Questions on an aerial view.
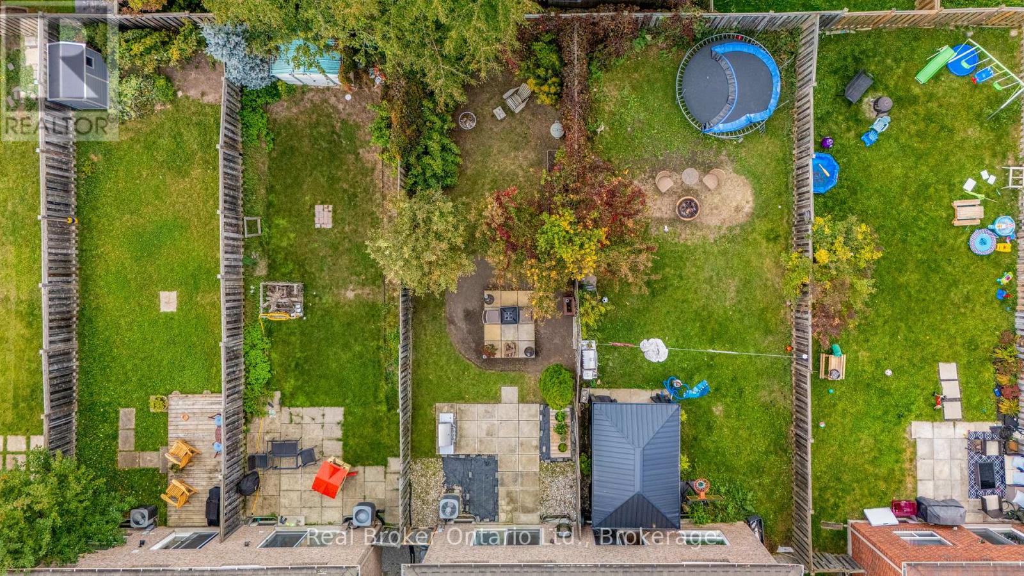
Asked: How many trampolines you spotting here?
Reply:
1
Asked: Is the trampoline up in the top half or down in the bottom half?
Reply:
top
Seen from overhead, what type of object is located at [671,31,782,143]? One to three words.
trampoline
